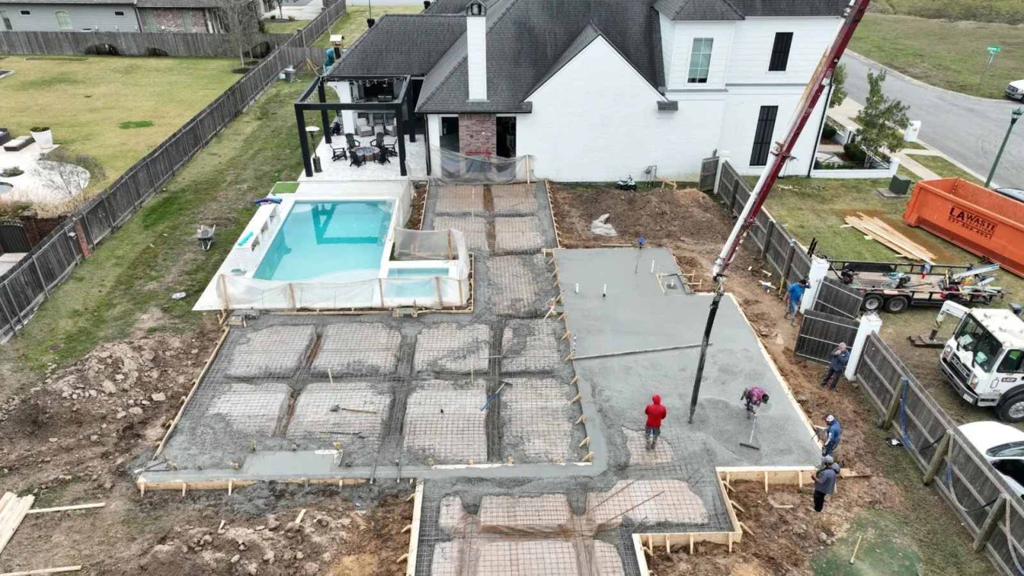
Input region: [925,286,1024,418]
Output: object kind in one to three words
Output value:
truck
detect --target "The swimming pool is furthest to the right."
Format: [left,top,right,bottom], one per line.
[232,198,463,304]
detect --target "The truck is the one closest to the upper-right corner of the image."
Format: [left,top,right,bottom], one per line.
[1001,80,1024,101]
